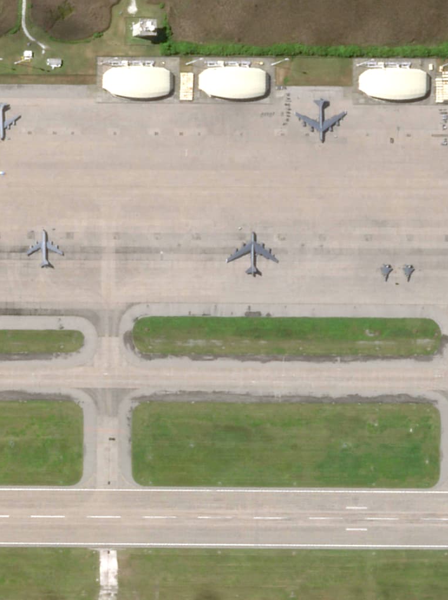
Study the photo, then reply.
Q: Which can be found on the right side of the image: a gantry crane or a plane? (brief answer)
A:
plane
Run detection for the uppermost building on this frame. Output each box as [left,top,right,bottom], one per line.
[131,19,158,37]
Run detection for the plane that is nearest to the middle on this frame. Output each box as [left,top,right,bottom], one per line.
[227,230,278,274]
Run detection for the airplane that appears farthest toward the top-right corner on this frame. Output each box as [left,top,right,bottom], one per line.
[297,99,349,143]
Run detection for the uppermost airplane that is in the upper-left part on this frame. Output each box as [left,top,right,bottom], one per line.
[0,103,21,140]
